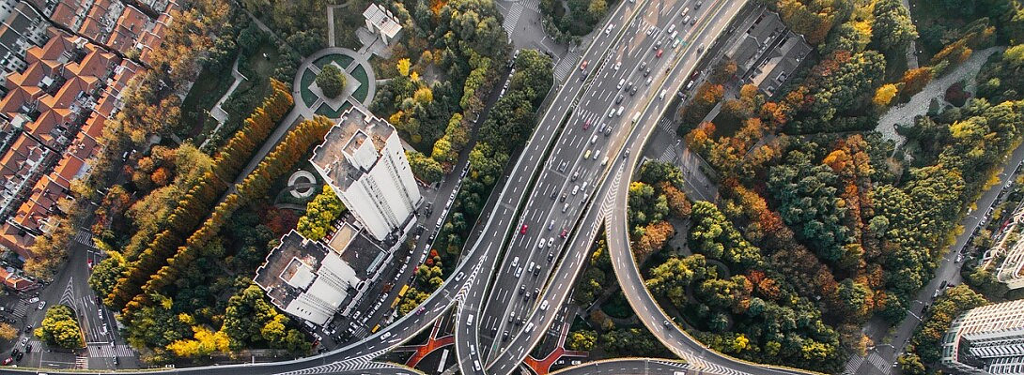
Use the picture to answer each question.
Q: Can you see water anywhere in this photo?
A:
No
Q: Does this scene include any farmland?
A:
No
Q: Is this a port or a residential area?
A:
residential area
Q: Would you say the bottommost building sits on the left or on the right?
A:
right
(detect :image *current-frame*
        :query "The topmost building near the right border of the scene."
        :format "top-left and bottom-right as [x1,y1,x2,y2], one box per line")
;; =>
[991,226,1024,289]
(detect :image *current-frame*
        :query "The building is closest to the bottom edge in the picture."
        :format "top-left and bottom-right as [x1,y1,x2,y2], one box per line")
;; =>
[942,297,1024,375]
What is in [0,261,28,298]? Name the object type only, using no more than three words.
house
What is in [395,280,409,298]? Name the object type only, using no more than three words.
vehicle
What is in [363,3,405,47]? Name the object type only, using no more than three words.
building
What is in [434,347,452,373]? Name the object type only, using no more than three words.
vehicle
